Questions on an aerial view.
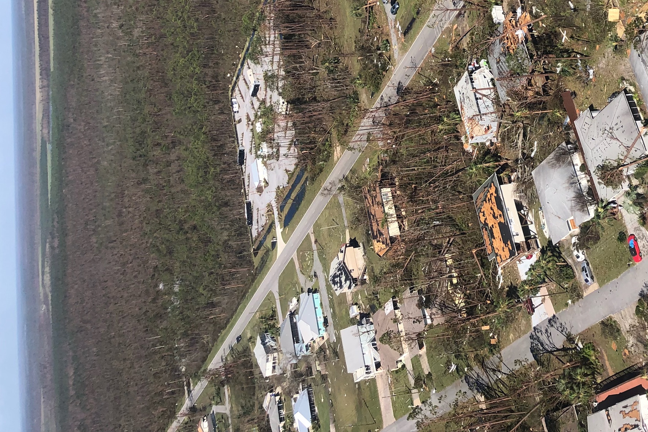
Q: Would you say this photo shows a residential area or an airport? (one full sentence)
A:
What you see here is a residential area.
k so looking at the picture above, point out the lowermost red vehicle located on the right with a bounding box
[520,292,535,323]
